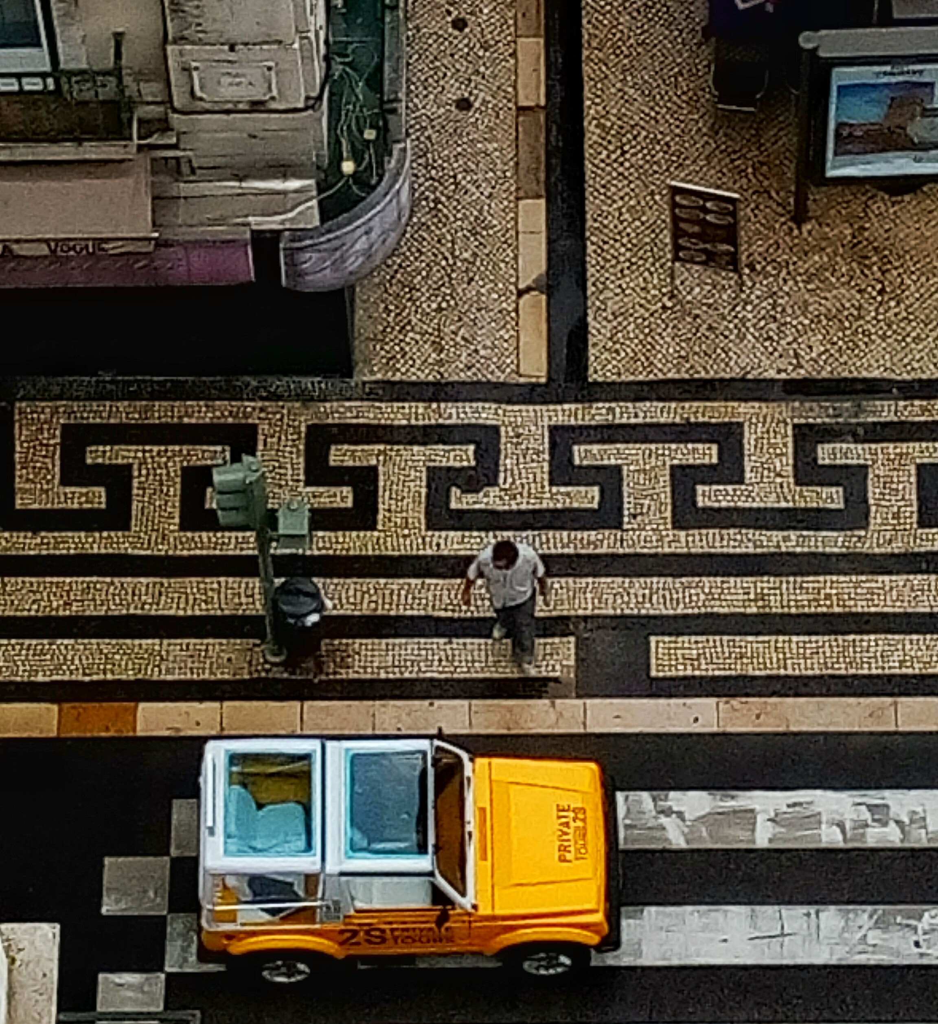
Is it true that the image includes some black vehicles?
No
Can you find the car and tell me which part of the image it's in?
bottom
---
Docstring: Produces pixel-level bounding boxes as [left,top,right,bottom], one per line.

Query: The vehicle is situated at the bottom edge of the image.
[193,729,620,977]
